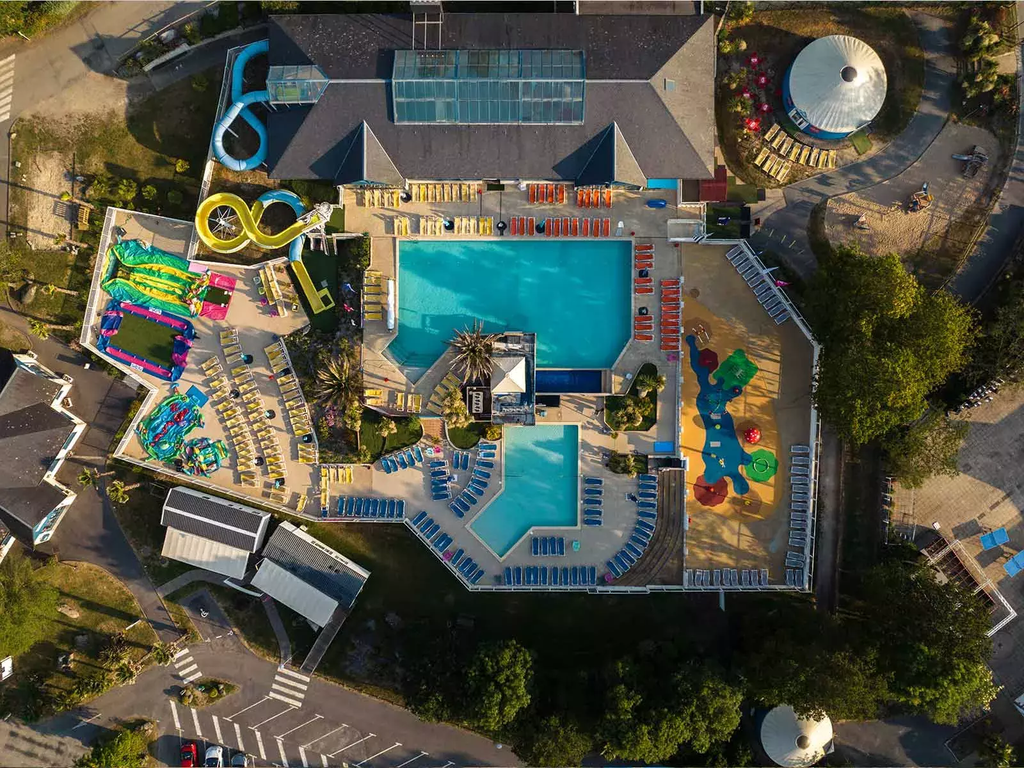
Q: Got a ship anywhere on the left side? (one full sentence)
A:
No, there is no ship on the left side.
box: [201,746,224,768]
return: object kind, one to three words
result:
car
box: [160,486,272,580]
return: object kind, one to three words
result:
building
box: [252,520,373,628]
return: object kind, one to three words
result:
building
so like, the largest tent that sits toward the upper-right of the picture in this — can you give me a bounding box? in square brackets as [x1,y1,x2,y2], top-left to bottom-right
[777,35,887,144]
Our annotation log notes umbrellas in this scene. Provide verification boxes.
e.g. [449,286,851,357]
[238,353,253,364]
[443,219,454,231]
[274,368,291,378]
[638,269,649,278]
[223,389,239,400]
[400,189,411,202]
[638,306,649,316]
[535,221,545,232]
[249,456,264,467]
[299,433,312,443]
[496,219,507,231]
[272,477,286,487]
[261,409,276,419]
